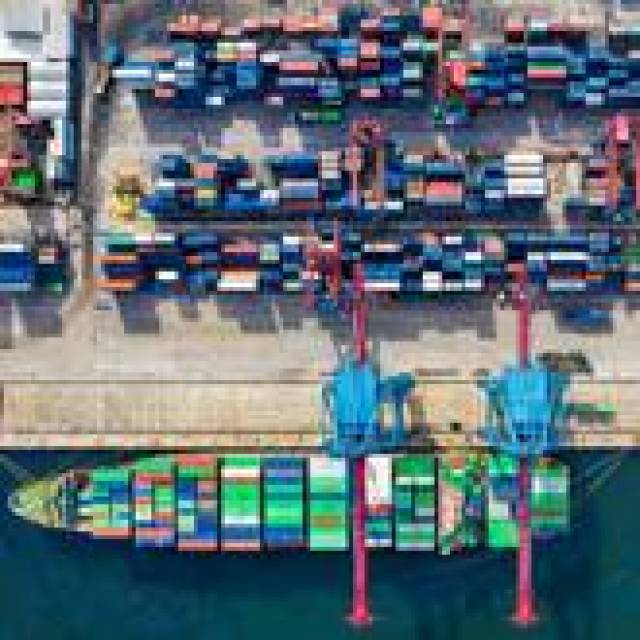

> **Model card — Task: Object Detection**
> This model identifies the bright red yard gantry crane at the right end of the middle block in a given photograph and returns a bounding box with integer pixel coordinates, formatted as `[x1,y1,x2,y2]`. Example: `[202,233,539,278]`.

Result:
[581,108,636,218]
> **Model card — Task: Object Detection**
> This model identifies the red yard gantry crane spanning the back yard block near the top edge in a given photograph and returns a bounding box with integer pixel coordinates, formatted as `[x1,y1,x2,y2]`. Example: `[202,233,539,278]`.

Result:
[424,8,466,118]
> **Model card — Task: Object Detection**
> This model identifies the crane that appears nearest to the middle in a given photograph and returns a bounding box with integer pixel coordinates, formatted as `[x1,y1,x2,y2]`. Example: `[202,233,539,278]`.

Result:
[308,221,341,304]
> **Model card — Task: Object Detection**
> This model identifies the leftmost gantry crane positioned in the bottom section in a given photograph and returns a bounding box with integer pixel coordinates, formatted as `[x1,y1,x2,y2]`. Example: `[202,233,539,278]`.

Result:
[312,262,418,621]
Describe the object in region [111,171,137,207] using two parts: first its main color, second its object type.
yellow work vehicle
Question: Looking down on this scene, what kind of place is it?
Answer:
port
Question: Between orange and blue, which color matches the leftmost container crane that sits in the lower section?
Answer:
blue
